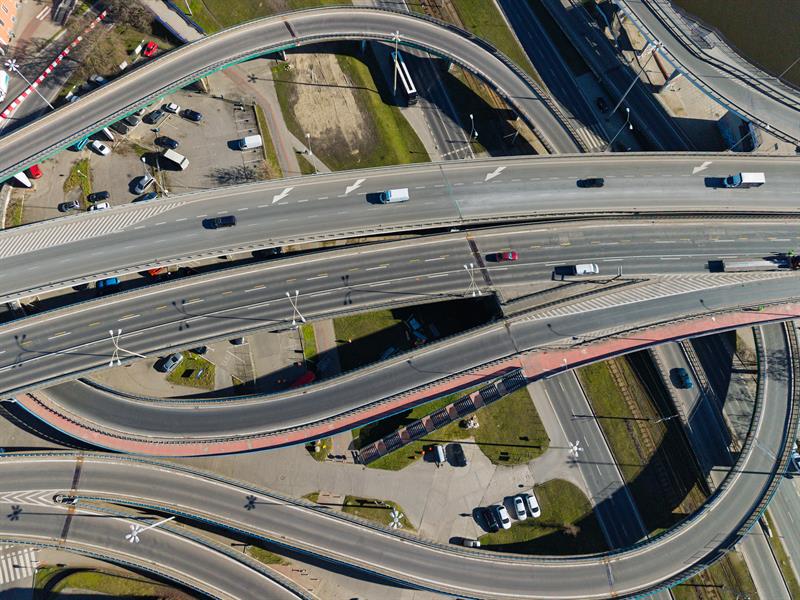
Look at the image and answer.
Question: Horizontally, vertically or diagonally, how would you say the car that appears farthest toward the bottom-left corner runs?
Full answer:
In this picture, the car that appears farthest toward the bottom-left corner is oriented diagonally.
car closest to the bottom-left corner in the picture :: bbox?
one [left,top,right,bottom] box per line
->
[162,352,184,373]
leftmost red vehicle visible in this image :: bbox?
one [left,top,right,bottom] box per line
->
[24,165,45,178]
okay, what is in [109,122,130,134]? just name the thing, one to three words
vehicle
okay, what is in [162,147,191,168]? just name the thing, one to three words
truck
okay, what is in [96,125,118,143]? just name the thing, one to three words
vehicle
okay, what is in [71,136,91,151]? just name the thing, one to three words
car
